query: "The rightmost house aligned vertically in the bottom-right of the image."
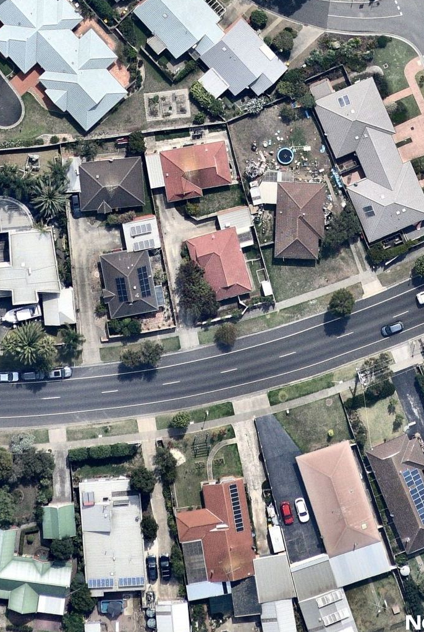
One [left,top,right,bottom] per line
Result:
[366,434,424,554]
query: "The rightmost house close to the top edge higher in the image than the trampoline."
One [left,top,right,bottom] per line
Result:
[198,19,288,98]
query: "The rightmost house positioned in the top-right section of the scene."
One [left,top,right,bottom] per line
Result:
[308,78,424,242]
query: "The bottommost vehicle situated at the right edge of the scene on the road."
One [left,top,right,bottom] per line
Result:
[380,321,404,337]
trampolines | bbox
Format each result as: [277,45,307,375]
[276,147,294,164]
